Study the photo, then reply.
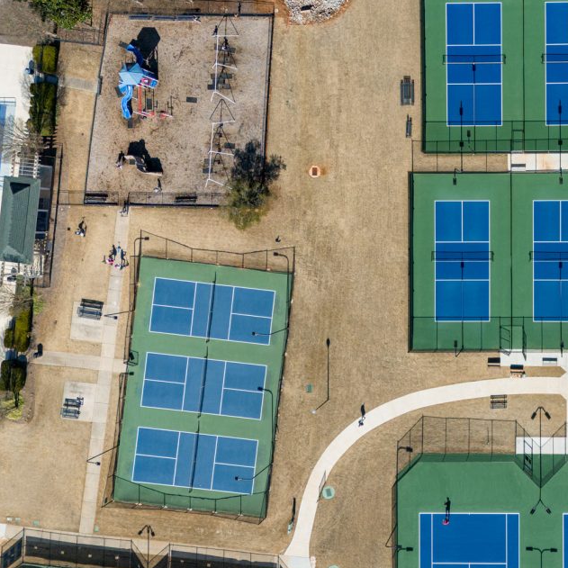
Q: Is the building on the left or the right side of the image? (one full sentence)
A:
The building appears in the left half of the scene.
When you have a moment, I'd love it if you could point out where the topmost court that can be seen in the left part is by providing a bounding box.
[133,257,291,355]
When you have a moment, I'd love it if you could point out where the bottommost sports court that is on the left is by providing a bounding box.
[113,417,272,517]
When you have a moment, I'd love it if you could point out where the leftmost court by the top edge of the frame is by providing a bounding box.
[424,0,523,152]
